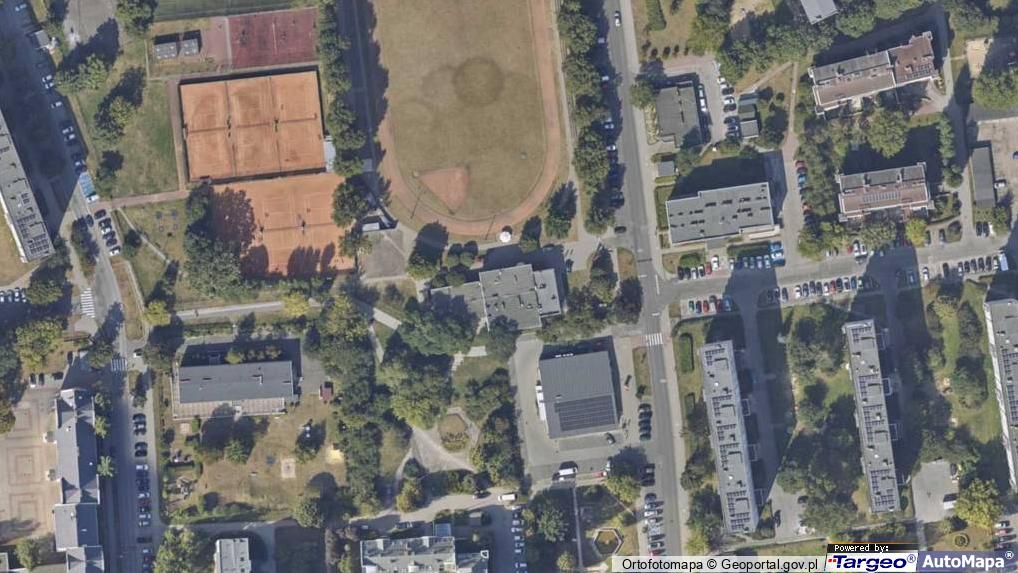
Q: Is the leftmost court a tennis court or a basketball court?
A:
tennis court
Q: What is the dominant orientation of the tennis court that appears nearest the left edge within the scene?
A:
from top to bottom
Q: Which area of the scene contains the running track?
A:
top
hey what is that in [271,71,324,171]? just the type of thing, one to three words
tennis court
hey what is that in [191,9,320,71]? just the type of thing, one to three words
sports court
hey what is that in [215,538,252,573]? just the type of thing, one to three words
house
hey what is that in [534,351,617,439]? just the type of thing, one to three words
building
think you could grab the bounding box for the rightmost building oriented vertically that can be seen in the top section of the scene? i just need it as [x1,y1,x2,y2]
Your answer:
[972,147,995,207]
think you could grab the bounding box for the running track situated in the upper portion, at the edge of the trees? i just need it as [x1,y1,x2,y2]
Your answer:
[364,0,563,236]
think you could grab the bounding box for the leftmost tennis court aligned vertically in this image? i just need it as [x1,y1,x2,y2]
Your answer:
[182,81,235,179]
